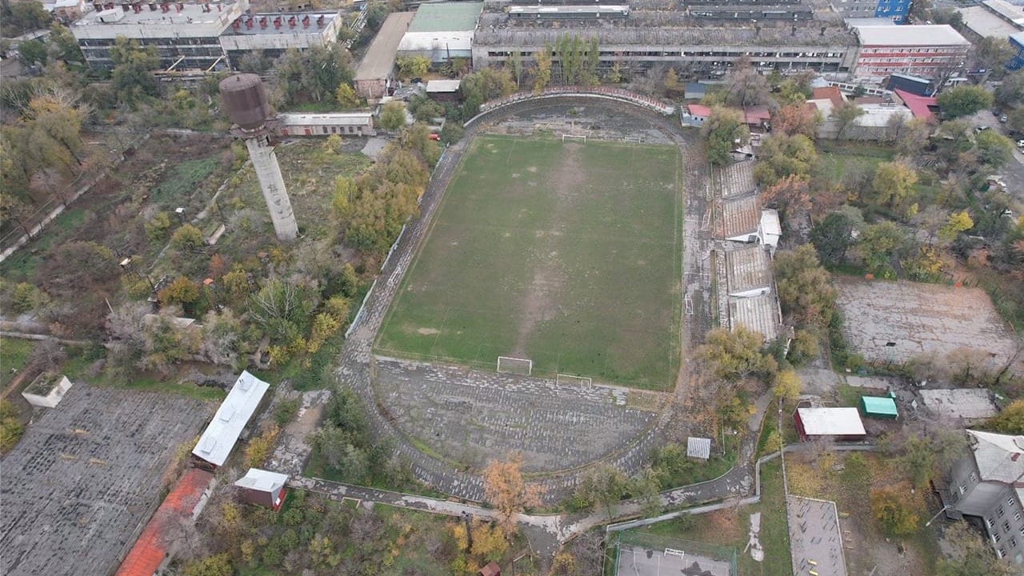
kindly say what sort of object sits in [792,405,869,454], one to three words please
building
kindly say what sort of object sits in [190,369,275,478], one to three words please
building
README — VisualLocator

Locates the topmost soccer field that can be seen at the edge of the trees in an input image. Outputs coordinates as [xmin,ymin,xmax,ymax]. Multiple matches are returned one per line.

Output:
[375,135,682,393]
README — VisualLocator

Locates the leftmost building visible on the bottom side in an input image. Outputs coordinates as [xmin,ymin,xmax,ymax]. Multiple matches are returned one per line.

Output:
[21,371,71,406]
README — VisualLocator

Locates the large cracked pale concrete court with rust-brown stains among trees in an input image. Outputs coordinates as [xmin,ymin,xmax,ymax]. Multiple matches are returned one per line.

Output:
[835,277,1021,376]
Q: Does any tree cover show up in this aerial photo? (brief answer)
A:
Yes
